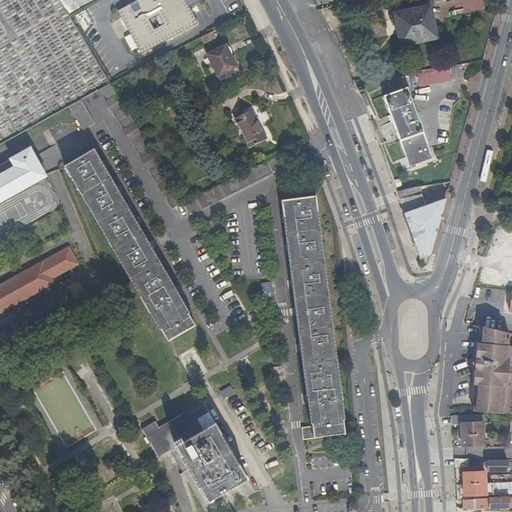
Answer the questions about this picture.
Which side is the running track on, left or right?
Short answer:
left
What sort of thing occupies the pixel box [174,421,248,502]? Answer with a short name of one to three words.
building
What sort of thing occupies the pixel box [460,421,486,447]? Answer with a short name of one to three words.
house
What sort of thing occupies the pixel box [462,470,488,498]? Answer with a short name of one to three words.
house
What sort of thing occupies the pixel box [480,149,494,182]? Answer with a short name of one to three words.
vehicle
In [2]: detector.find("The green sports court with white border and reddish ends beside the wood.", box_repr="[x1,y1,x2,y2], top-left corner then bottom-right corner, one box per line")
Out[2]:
[34,371,96,448]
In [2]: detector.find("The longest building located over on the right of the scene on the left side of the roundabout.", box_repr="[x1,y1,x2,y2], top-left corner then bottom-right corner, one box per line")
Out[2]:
[282,196,346,438]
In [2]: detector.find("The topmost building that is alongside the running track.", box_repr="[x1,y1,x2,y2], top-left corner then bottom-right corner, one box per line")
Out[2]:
[0,146,48,202]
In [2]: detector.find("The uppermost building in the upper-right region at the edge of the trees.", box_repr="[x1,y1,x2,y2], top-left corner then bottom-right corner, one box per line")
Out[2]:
[392,4,439,44]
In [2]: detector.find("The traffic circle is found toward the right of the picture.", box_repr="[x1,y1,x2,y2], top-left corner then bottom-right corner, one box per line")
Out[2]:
[397,298,430,361]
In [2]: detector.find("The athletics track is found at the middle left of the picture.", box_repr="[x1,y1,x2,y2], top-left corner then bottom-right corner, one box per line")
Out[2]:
[0,178,61,238]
